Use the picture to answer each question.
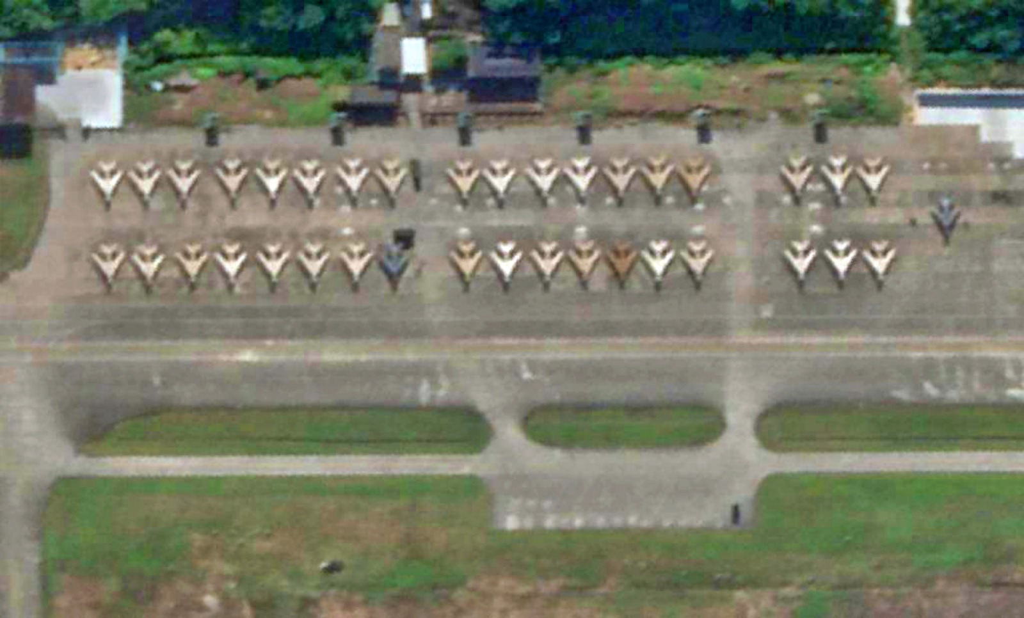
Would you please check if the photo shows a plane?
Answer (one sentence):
Yes, there's a plane here.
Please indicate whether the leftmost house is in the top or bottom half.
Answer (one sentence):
The leftmost house is in the top half of the image.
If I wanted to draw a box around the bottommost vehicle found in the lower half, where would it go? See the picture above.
[320,560,344,572]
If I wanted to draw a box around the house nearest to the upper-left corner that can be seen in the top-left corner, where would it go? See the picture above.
[0,64,32,122]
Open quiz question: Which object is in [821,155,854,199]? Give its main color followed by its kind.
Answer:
white airplane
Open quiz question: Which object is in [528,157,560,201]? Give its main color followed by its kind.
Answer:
white airplane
